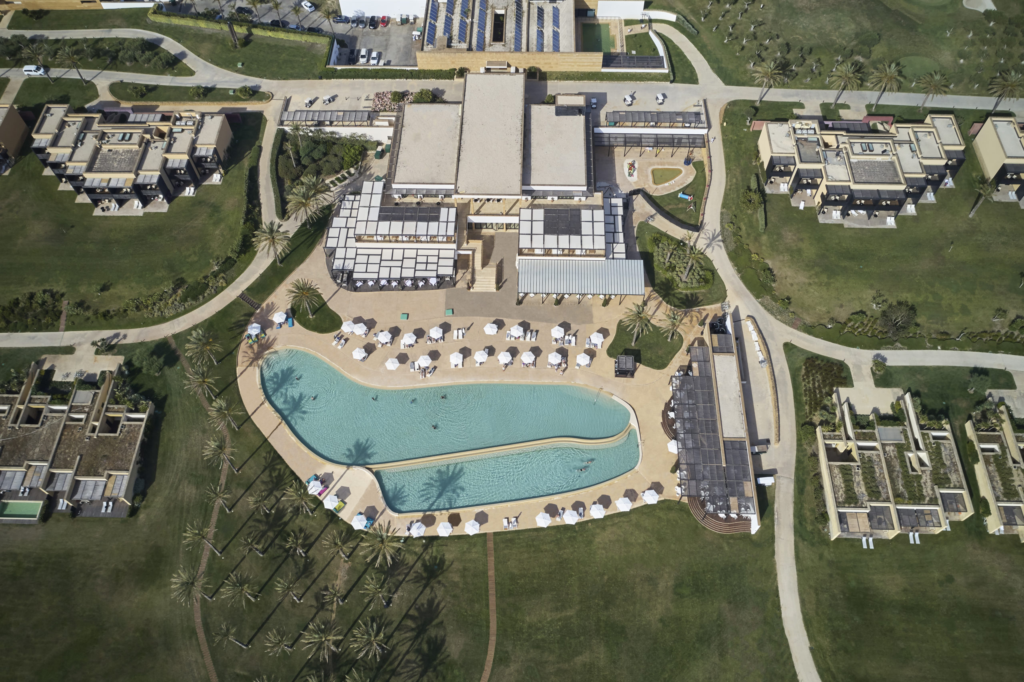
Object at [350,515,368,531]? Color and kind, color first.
white umbrella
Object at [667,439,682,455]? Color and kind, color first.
white umbrella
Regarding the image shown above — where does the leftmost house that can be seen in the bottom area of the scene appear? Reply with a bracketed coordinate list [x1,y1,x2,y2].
[0,362,68,495]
